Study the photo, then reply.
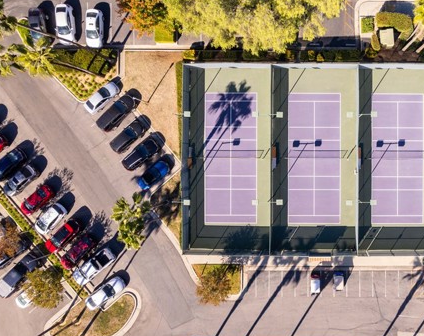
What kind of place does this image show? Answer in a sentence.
It's a sports ground.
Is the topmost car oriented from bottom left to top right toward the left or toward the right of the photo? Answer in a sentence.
The topmost car oriented from bottom left to top right is on the left side of the image.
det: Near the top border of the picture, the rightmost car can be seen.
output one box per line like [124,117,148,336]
[83,7,106,50]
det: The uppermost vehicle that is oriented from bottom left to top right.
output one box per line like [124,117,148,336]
[83,79,123,111]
